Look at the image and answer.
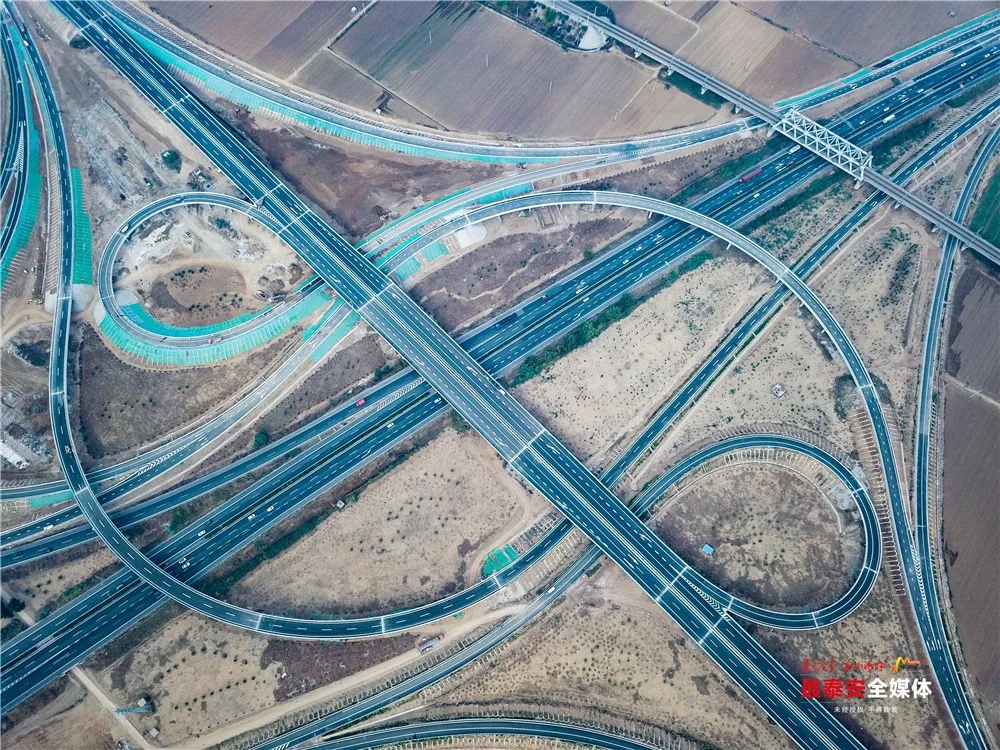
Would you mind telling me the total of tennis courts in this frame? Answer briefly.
0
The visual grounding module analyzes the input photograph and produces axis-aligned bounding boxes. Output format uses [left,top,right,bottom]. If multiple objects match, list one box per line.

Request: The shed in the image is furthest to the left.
[0,437,29,472]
